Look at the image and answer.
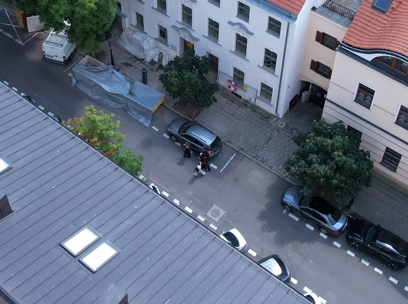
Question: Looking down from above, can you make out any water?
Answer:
No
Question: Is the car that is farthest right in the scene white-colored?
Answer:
No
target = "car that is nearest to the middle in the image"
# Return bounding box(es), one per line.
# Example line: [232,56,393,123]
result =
[168,116,226,159]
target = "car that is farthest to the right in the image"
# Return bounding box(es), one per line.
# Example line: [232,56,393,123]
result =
[345,218,408,275]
